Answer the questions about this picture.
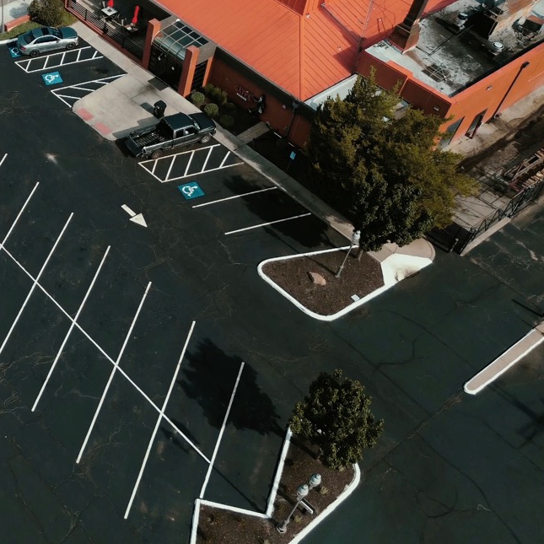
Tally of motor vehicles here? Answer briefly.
2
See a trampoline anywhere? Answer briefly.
No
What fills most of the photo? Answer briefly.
paved ground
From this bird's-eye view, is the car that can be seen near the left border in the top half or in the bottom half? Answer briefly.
top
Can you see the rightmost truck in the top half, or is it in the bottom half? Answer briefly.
top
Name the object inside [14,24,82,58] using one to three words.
car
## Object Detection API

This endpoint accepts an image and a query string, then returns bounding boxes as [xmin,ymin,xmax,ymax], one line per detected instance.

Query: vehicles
[14,24,82,58]
[123,113,220,160]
